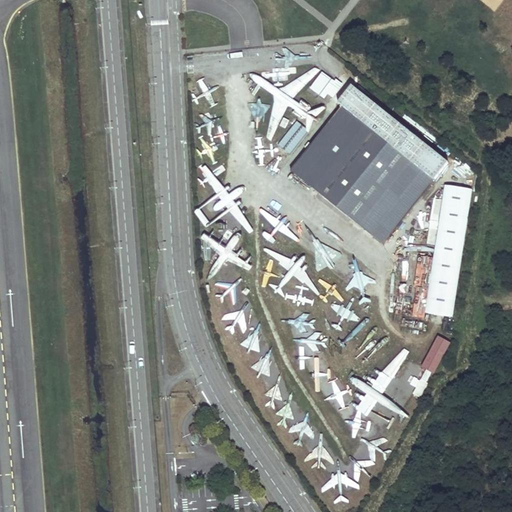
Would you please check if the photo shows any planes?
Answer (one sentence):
Yes, a plane appears in the view.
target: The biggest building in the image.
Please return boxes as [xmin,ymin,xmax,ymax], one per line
[290,86,452,244]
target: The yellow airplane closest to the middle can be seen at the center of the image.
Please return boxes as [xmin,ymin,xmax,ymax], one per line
[262,258,280,287]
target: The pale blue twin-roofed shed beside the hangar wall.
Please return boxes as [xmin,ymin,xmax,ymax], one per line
[278,121,306,152]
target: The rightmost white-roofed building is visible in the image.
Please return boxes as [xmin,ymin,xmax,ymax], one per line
[426,183,472,317]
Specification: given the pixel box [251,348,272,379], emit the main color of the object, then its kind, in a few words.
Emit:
white airplane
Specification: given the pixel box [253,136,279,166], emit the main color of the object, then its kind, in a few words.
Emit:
white airplane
